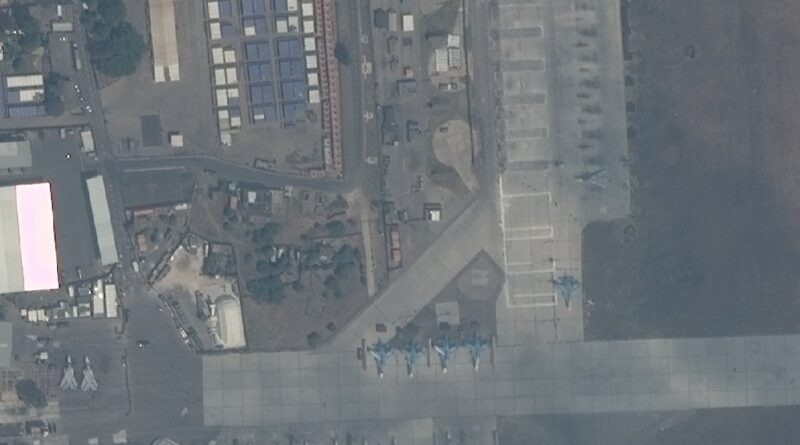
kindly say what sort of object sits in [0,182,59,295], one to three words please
hangar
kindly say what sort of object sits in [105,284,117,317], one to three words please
shed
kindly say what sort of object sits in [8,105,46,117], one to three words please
building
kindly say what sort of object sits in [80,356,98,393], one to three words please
airplane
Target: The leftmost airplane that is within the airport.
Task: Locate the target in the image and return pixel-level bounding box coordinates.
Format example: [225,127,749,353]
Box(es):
[368,339,393,377]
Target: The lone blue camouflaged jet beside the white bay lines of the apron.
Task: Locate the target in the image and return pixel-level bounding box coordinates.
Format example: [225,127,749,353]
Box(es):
[555,271,580,310]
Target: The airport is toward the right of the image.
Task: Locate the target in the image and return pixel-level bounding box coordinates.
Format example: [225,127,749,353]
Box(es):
[203,0,800,445]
